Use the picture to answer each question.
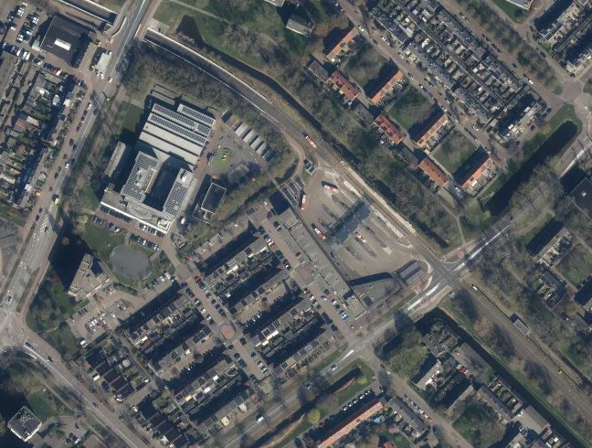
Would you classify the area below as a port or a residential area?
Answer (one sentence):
What you see here is a residential area.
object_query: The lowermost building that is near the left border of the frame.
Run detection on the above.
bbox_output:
[8,406,43,442]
